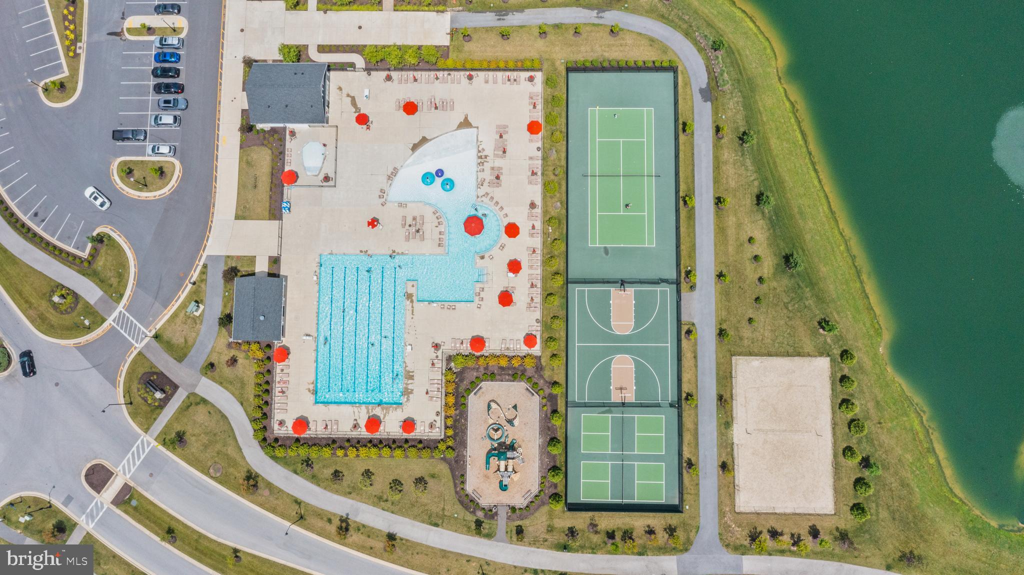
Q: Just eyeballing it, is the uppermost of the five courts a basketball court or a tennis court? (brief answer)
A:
tennis court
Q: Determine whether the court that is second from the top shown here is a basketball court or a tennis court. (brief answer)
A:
basketball court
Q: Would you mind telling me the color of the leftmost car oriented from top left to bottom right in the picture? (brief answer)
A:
white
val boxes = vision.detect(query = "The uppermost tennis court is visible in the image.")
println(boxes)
[568,71,677,282]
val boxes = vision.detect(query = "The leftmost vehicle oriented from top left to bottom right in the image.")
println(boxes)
[85,186,112,211]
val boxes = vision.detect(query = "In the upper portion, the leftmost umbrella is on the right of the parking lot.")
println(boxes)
[282,170,297,185]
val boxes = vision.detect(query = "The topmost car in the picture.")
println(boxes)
[154,2,182,16]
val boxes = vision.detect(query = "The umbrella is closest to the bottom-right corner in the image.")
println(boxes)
[523,334,538,349]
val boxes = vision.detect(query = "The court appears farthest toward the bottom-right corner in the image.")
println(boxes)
[732,356,835,514]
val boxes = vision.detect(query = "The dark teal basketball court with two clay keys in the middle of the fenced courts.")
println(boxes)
[567,284,678,407]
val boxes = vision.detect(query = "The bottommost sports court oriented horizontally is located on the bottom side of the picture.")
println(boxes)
[567,458,679,507]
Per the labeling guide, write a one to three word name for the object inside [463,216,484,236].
umbrella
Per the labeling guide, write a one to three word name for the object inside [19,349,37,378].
car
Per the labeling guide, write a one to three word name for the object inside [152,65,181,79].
car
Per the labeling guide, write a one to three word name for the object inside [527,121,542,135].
umbrella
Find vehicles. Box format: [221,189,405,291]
[148,144,176,157]
[154,2,182,16]
[154,81,185,95]
[111,128,149,142]
[154,50,181,64]
[85,186,112,211]
[154,35,184,50]
[152,65,181,79]
[158,97,189,111]
[19,349,37,378]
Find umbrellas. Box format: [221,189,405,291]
[527,121,542,135]
[365,417,381,434]
[282,170,297,185]
[523,334,538,349]
[403,101,417,116]
[367,218,378,229]
[292,418,308,434]
[274,348,289,362]
[469,336,486,353]
[498,291,514,306]
[463,216,484,236]
[504,223,520,238]
[507,259,522,273]
[356,113,369,126]
[401,420,416,434]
